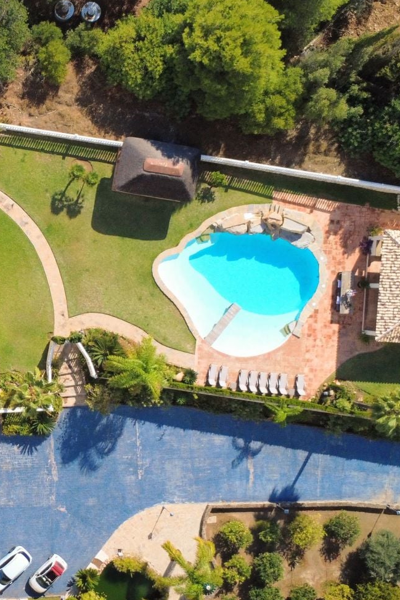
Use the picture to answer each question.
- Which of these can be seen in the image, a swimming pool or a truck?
swimming pool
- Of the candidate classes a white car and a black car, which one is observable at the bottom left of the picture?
white car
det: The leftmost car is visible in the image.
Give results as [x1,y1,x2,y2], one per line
[0,542,32,593]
